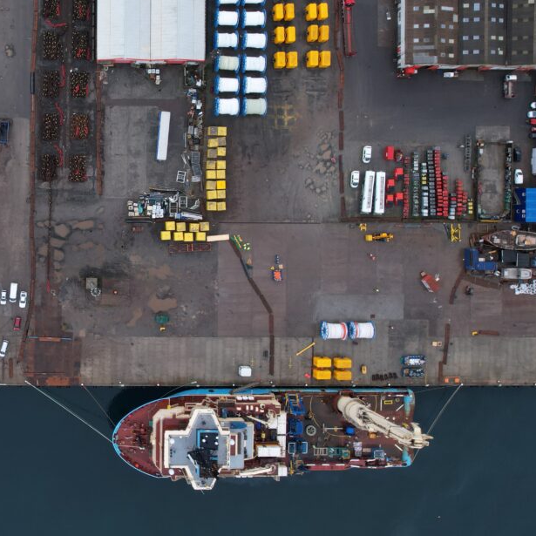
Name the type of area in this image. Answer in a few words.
port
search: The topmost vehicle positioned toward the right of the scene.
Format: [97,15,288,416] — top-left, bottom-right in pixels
[342,0,354,56]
